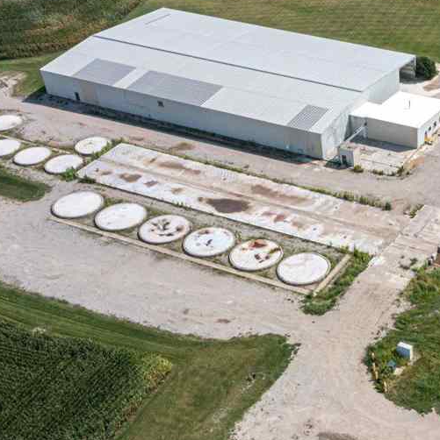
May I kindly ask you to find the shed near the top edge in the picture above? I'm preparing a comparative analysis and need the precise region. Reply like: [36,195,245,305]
[38,7,417,159]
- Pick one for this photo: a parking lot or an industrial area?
industrial area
